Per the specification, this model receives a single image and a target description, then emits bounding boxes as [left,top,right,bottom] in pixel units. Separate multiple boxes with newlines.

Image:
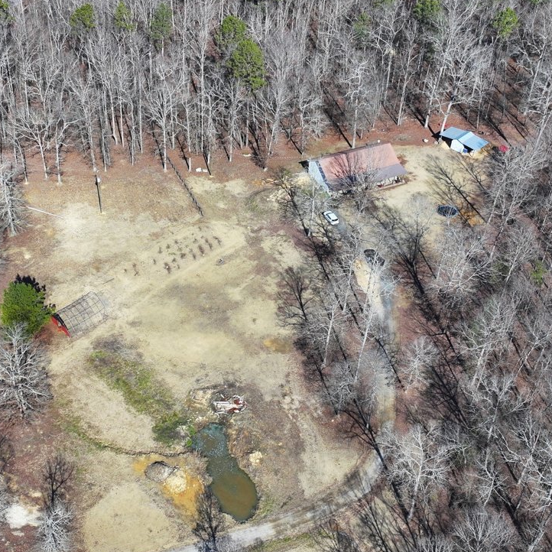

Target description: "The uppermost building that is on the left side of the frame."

[51,295,108,336]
